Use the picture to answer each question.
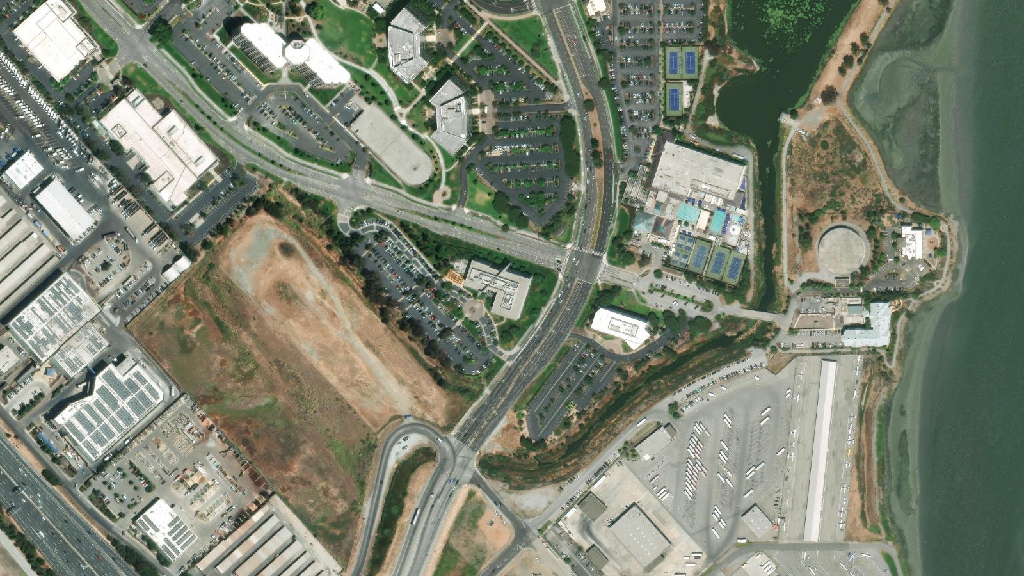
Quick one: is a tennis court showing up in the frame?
Yes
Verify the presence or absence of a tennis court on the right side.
Yes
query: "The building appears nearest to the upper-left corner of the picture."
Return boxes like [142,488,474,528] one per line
[11,0,95,82]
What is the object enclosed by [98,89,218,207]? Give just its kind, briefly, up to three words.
building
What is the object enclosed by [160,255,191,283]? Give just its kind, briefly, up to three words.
tent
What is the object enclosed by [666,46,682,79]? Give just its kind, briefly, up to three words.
tennis court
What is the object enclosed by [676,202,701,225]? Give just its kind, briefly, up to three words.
swimming pool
